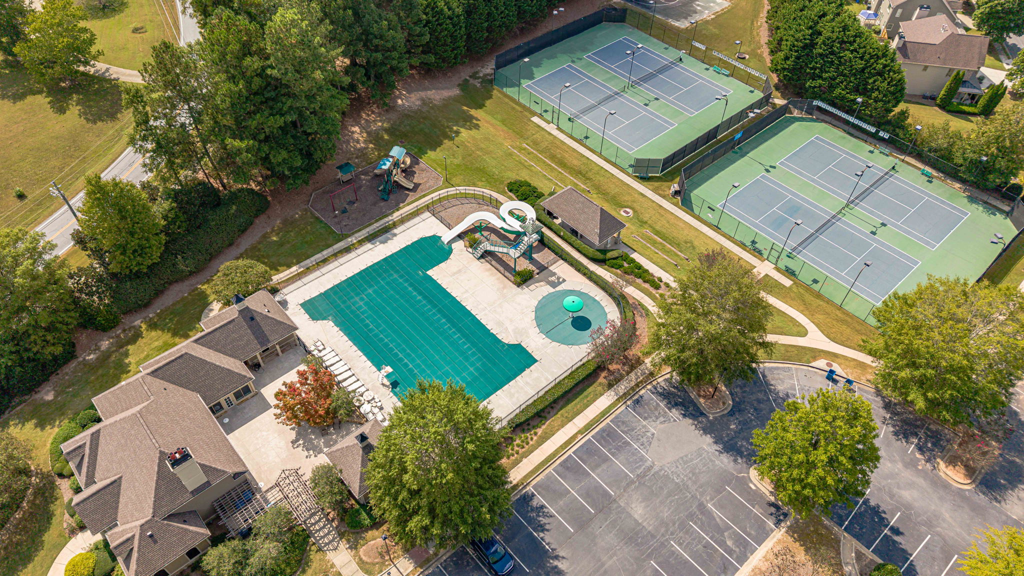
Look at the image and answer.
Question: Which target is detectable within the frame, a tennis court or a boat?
tennis court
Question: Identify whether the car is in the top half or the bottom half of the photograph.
bottom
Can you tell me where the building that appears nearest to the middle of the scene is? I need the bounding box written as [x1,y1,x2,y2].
[541,186,628,257]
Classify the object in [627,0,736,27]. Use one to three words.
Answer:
basketball court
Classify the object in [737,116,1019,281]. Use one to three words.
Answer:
tennis court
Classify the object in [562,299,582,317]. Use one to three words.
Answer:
fountain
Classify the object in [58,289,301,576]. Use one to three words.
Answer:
building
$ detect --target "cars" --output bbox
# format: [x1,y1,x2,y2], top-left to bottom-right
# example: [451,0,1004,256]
[469,525,516,576]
